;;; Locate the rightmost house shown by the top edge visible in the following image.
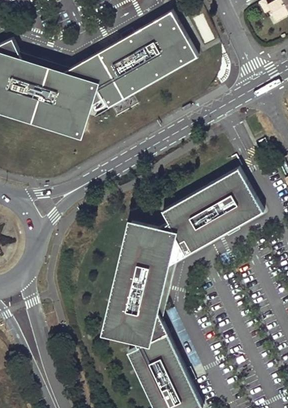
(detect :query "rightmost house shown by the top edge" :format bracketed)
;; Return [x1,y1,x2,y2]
[258,0,288,22]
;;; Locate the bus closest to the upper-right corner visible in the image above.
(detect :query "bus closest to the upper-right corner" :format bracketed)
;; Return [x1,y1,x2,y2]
[253,78,282,98]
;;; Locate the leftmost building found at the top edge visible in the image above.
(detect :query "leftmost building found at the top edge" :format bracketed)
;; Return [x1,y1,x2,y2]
[0,9,200,142]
